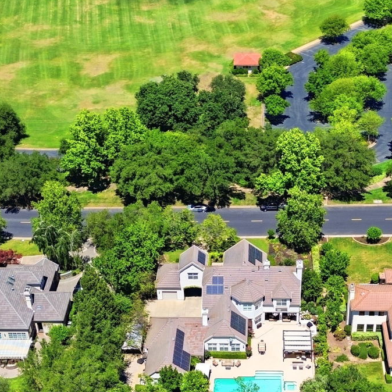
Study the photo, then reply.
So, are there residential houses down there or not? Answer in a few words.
Yes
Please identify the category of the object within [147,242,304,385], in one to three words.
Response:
house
